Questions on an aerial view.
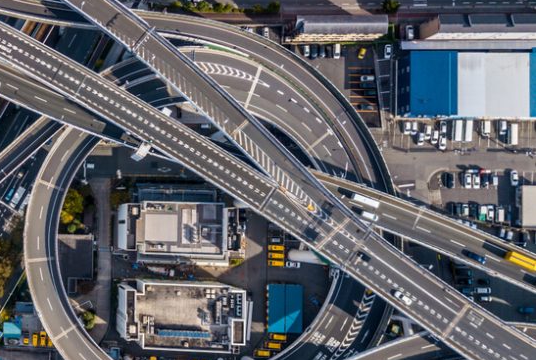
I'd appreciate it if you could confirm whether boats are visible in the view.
No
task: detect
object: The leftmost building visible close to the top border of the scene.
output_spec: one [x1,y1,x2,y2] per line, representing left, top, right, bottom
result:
[287,15,390,45]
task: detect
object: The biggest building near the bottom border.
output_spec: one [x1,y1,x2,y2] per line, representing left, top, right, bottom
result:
[113,278,250,353]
